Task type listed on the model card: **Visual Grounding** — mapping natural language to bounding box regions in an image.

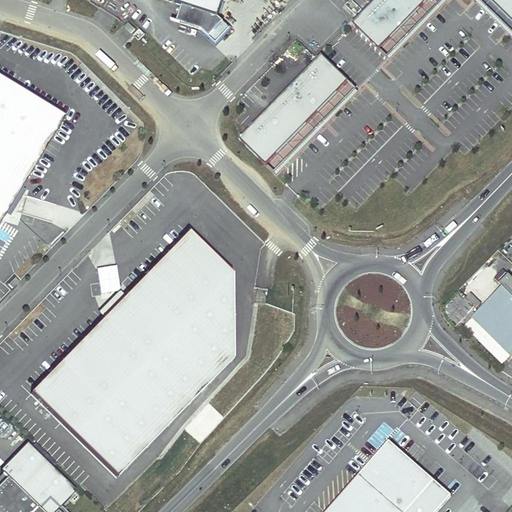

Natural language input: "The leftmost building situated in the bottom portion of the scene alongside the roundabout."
[34,229,236,476]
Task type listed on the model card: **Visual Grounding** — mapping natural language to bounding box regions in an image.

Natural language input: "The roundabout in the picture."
[285,244,466,384]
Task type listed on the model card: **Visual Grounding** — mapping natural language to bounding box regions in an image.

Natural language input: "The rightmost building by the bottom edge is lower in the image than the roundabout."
[323,439,452,512]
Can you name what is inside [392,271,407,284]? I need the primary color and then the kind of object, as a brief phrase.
white vehicle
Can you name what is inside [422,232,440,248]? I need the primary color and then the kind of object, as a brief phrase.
white vehicle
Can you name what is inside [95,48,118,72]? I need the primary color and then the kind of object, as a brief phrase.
white truck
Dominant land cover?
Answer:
paved ground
